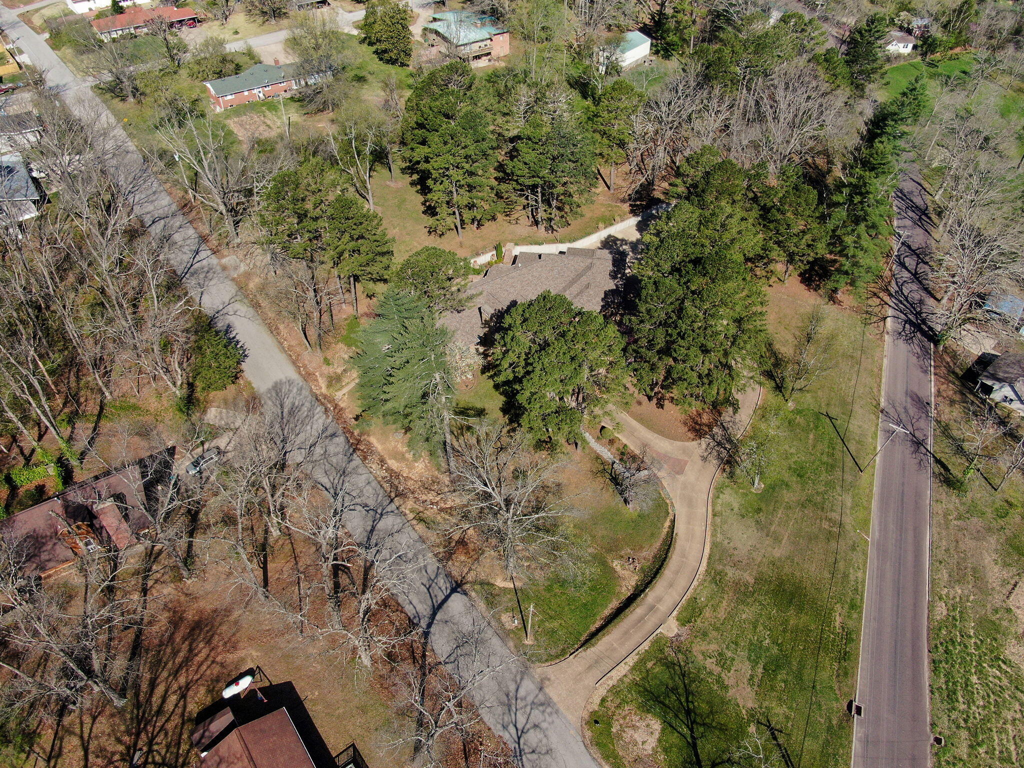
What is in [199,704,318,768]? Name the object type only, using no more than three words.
house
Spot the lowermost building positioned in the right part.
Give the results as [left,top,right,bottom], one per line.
[968,353,1024,422]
